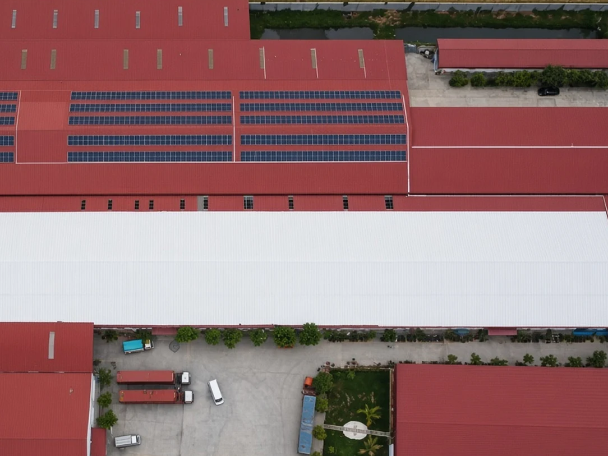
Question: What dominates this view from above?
buildings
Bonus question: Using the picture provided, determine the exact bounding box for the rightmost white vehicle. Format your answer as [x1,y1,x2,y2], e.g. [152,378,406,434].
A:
[207,379,223,407]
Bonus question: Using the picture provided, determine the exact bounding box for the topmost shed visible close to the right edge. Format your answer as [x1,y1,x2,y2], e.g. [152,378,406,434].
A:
[432,39,608,74]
